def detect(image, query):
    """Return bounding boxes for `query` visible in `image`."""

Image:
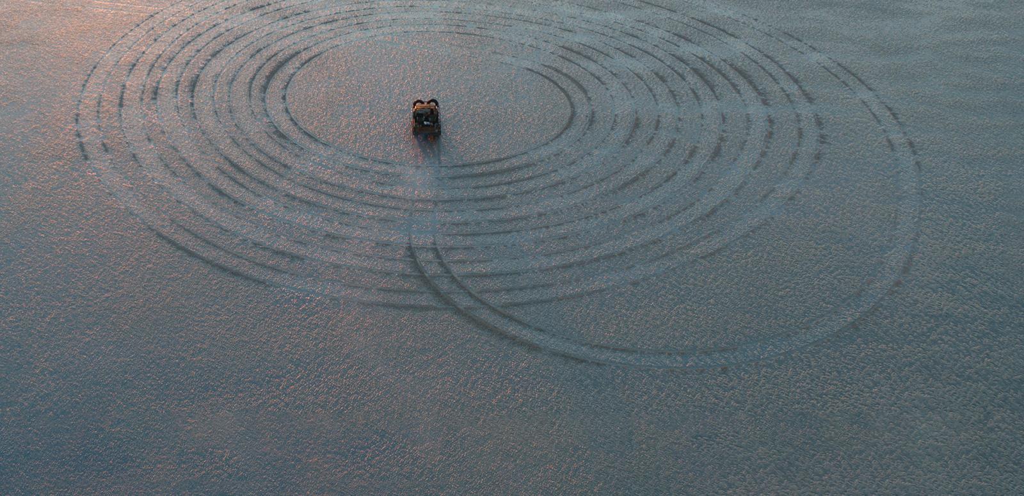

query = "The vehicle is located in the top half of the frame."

[413,98,442,139]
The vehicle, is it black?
Yes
